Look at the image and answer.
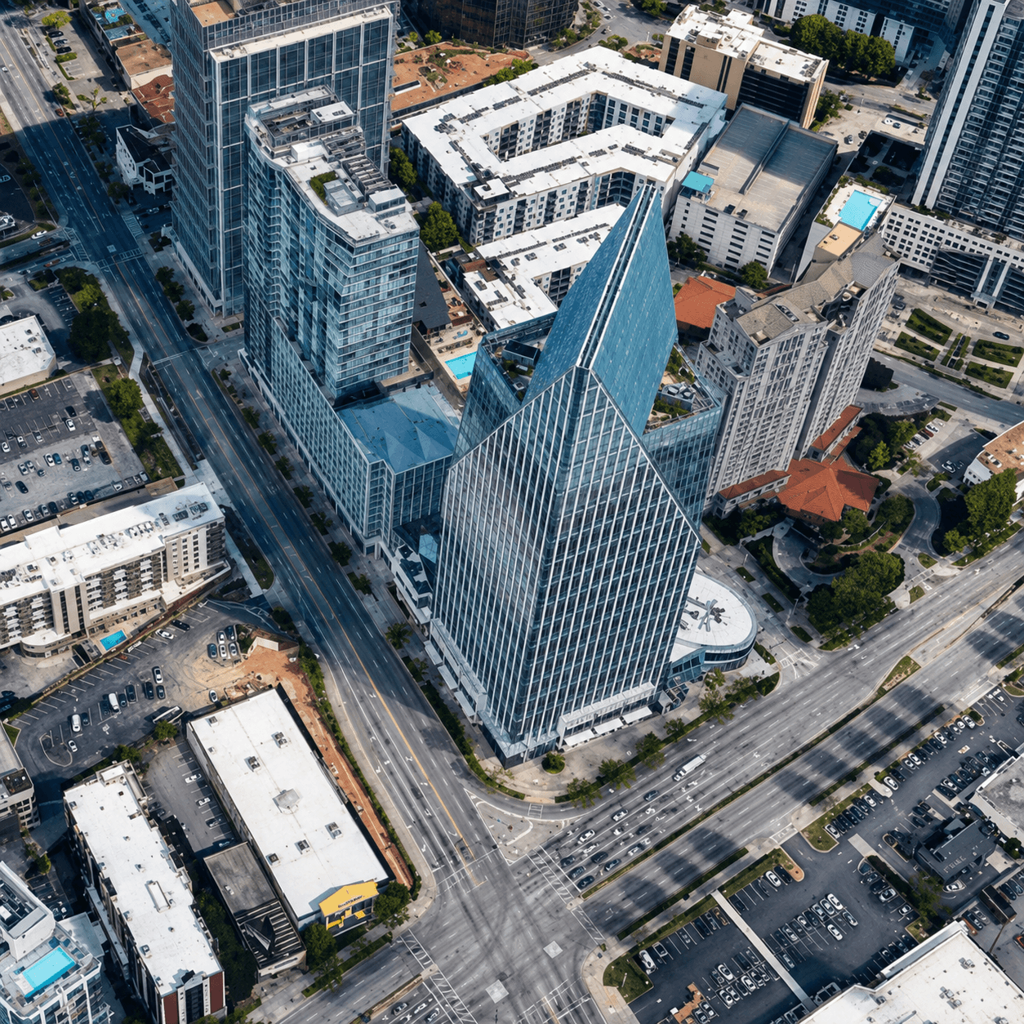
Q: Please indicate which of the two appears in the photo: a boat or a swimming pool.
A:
swimming pool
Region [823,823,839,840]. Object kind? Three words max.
car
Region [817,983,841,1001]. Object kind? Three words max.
vehicle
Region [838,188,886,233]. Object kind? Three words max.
swimming pool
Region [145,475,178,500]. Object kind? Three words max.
shed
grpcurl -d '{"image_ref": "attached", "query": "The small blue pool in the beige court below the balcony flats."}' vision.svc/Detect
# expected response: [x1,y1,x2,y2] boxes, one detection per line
[99,630,127,650]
